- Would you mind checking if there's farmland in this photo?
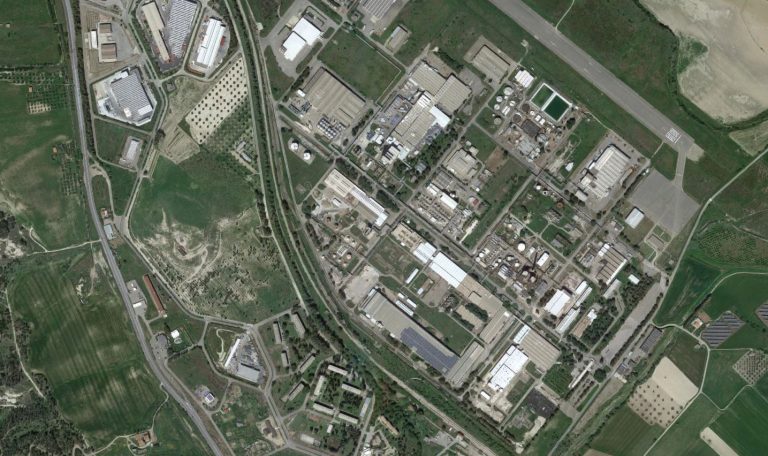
Yes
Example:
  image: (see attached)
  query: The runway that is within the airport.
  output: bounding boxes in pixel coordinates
[494,0,693,151]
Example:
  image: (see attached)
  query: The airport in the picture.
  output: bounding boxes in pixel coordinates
[489,0,705,236]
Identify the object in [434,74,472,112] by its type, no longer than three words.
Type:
building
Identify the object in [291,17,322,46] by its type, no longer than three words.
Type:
building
